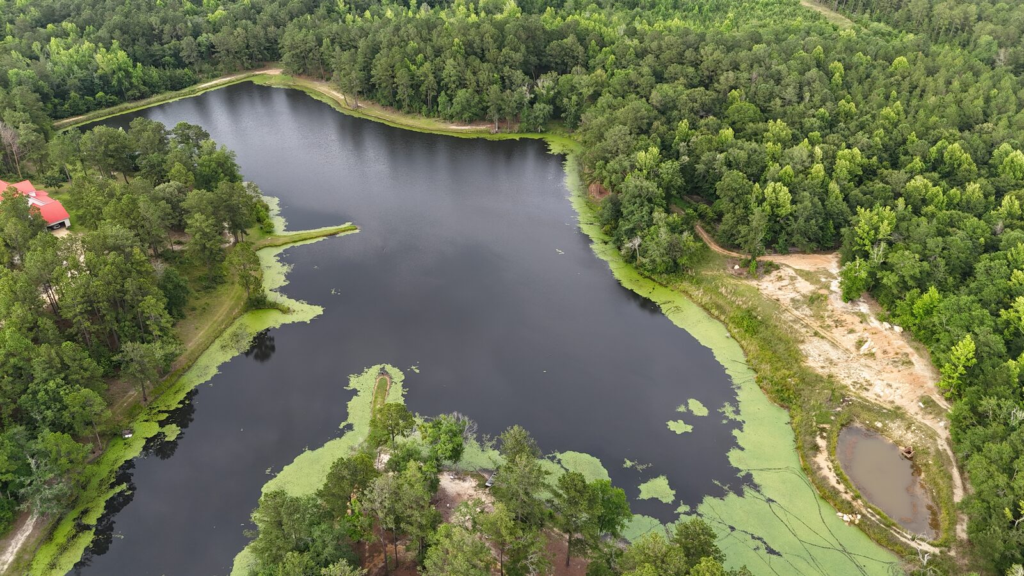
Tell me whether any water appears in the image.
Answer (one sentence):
Yes, there is water in the image.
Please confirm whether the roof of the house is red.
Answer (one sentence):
Yes, the roof of the house appears red.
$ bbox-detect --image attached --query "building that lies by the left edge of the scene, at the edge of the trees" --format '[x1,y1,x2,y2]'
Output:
[0,179,70,232]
